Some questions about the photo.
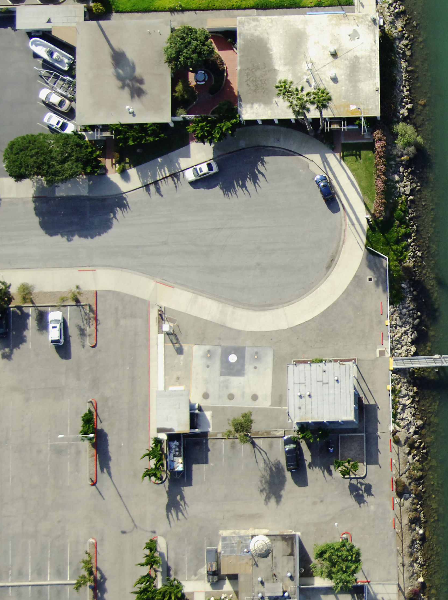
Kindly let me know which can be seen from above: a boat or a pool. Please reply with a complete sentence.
There is a boat in the scene.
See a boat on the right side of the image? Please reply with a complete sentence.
No, there is no boat on the right side of the image.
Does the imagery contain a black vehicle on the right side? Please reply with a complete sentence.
Yes, there is a black vehicle on the right side.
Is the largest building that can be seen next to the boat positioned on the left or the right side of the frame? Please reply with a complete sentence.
You can find the largest building that can be seen next to the boat on the left side of the picture.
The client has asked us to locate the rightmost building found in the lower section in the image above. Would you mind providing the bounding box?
[286,360,360,429]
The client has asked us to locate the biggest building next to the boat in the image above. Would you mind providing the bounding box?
[76,18,174,127]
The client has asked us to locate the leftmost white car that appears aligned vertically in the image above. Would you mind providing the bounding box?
[49,311,67,348]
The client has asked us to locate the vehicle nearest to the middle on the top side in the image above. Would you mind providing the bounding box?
[186,162,221,183]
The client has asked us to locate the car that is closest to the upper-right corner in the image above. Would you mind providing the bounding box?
[316,173,335,203]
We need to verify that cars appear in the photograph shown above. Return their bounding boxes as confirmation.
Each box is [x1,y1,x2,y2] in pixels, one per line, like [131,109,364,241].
[43,112,77,137]
[186,162,221,183]
[316,173,335,203]
[40,89,74,114]
[49,311,67,348]
[283,435,300,473]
